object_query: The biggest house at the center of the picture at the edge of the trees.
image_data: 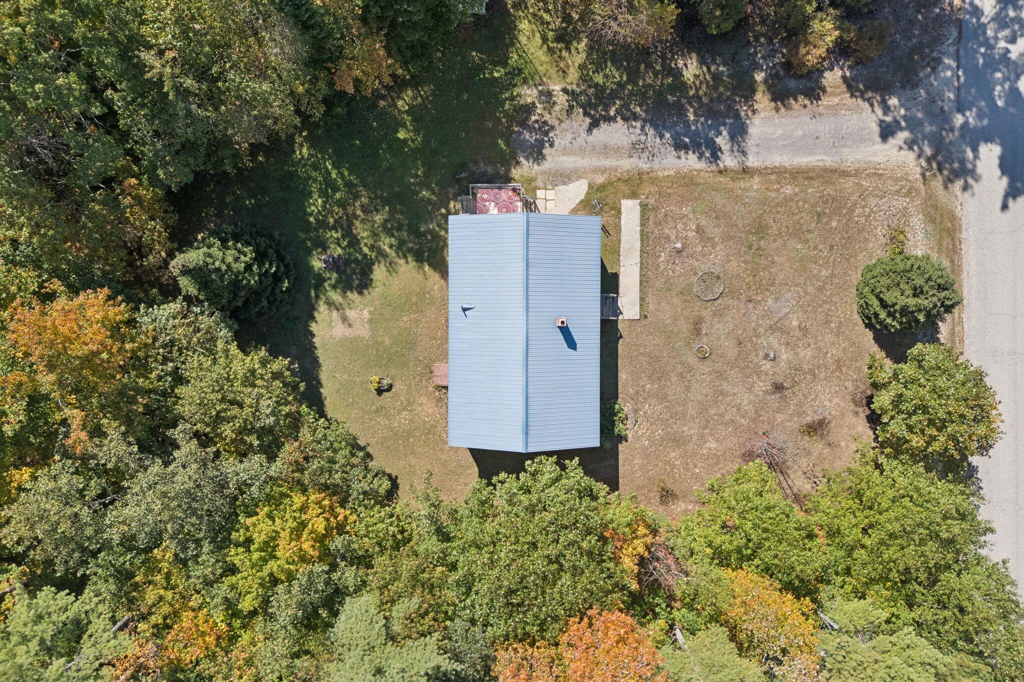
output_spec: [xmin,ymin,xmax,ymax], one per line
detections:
[448,212,601,453]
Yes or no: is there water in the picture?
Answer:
No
